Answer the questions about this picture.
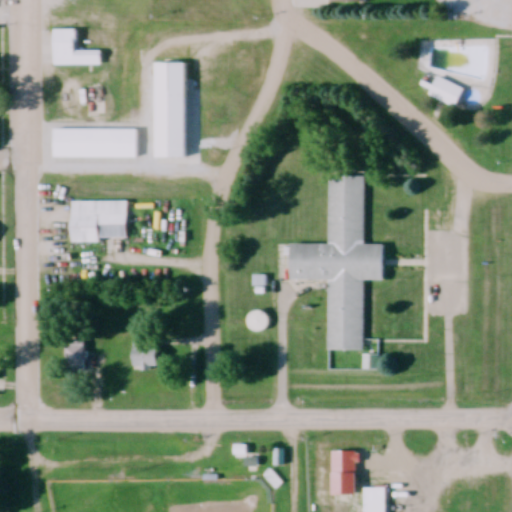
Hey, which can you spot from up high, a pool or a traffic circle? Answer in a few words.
pool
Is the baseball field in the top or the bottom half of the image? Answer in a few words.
bottom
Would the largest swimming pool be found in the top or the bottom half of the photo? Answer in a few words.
top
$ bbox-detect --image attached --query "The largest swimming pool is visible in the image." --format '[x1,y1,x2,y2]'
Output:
[418,38,500,106]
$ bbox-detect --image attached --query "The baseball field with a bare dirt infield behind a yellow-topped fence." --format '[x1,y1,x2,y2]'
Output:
[47,478,270,512]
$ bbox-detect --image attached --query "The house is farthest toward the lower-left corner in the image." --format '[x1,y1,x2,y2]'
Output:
[64,342,84,370]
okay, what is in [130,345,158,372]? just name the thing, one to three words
house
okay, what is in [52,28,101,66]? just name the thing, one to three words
building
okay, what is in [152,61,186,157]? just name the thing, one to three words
barn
